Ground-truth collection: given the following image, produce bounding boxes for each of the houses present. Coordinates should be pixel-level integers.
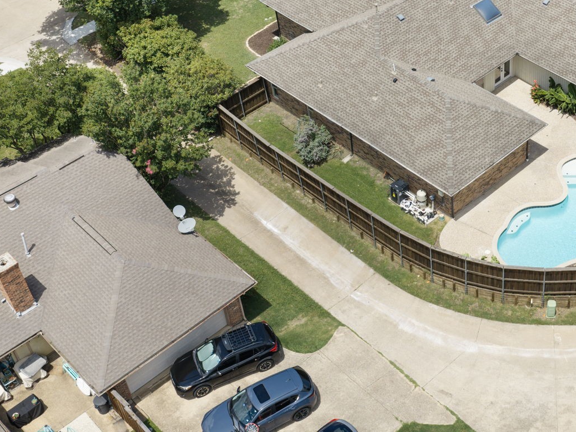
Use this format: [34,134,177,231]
[0,127,261,432]
[244,0,576,225]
